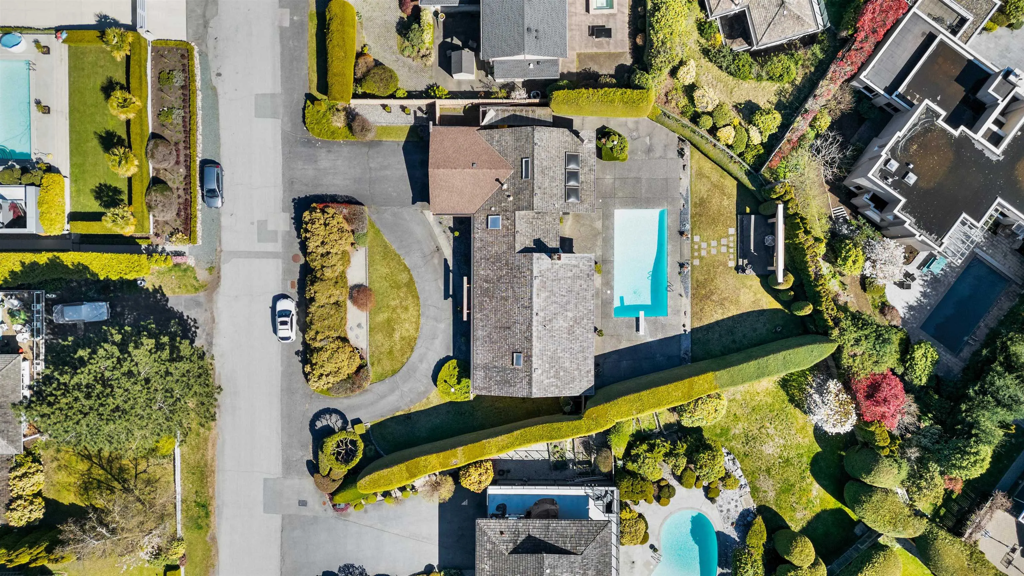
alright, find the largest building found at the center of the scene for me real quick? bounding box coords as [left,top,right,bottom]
[428,121,596,398]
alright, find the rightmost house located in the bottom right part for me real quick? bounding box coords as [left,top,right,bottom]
[984,460,1024,540]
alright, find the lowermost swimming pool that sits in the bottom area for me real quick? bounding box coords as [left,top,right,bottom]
[646,507,721,576]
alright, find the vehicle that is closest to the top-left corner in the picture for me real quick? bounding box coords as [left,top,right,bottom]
[201,162,225,209]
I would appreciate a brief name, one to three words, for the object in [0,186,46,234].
building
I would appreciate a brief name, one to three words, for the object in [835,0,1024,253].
house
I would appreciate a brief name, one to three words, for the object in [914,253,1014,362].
swimming pool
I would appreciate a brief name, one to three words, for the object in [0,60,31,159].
swimming pool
